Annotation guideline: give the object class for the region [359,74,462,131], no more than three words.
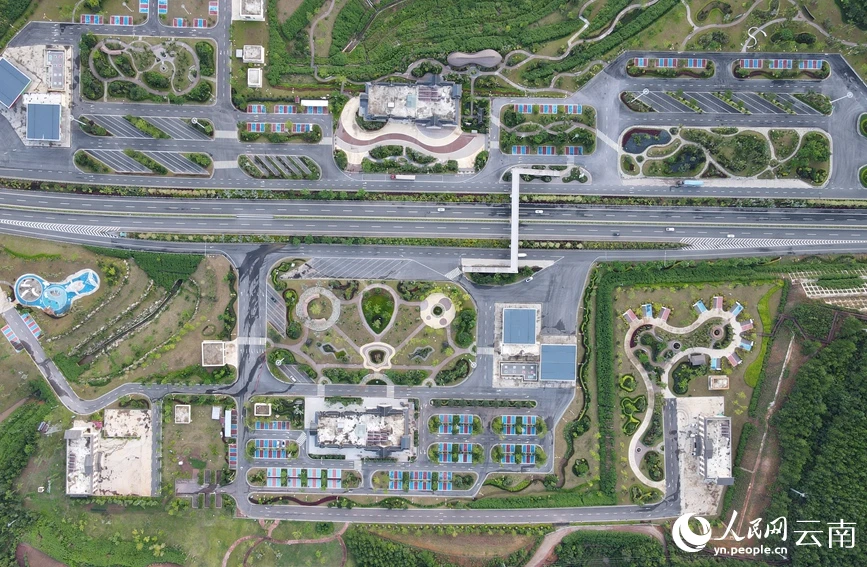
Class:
building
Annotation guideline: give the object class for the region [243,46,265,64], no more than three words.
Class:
house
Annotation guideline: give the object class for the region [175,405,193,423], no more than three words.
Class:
house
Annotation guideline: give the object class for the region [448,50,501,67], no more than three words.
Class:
building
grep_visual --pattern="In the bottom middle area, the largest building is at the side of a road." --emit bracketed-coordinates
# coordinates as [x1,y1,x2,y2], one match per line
[310,404,410,459]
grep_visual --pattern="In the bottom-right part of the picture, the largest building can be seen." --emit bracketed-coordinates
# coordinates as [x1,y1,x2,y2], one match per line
[692,413,734,484]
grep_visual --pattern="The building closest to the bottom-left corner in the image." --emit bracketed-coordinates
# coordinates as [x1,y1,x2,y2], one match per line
[64,421,103,496]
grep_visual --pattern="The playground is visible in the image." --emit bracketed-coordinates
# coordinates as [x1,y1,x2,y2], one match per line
[14,268,100,317]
